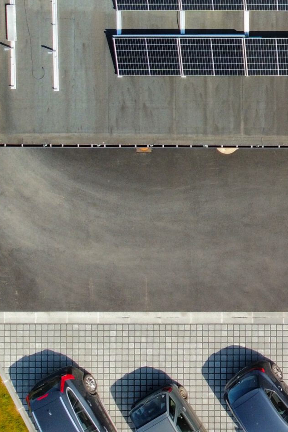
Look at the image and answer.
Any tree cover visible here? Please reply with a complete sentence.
No, tree cover can't be seen anywhere here.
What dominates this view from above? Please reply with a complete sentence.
What you mostly see from above here is paved ground.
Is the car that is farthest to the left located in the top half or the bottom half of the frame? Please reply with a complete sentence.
It is in the bottom half that the car that is farthest to the left appears.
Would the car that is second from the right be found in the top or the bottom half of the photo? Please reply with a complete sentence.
The bottom half of the photo is where the car that is second from the right is.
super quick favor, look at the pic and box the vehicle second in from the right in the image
[129,383,205,432]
